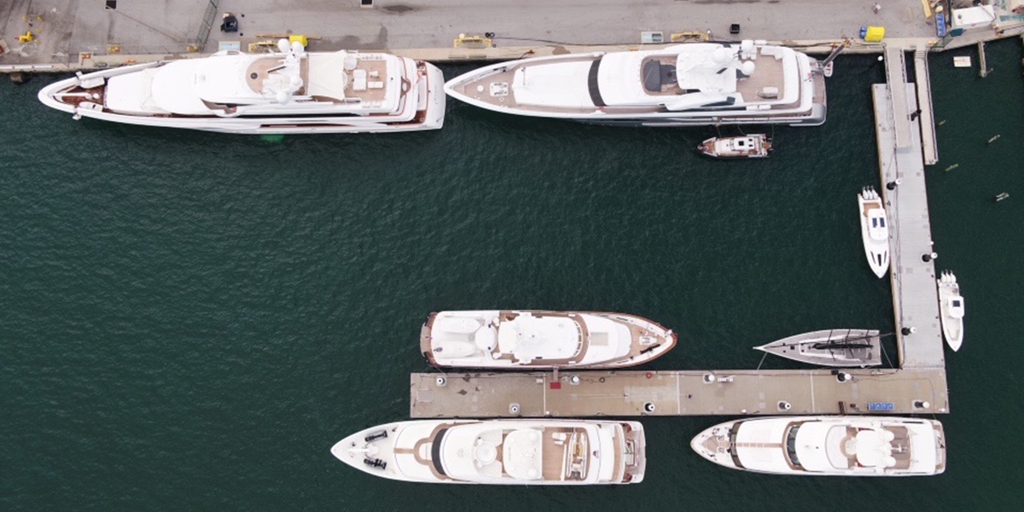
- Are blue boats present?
No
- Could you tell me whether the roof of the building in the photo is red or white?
white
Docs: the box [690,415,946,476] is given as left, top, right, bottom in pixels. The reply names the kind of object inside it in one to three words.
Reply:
boat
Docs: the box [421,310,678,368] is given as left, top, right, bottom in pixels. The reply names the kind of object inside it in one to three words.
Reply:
boat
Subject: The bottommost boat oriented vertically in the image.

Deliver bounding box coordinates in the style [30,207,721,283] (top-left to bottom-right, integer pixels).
[566,430,588,478]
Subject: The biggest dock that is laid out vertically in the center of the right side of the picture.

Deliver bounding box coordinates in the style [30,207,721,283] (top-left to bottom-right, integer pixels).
[870,84,947,369]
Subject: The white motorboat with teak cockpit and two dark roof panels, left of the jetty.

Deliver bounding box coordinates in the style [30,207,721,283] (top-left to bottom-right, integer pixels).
[855,188,888,279]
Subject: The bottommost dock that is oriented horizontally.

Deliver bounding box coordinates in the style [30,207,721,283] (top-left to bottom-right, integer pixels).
[410,368,948,419]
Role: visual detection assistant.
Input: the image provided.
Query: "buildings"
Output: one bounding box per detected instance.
[945,2,995,34]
